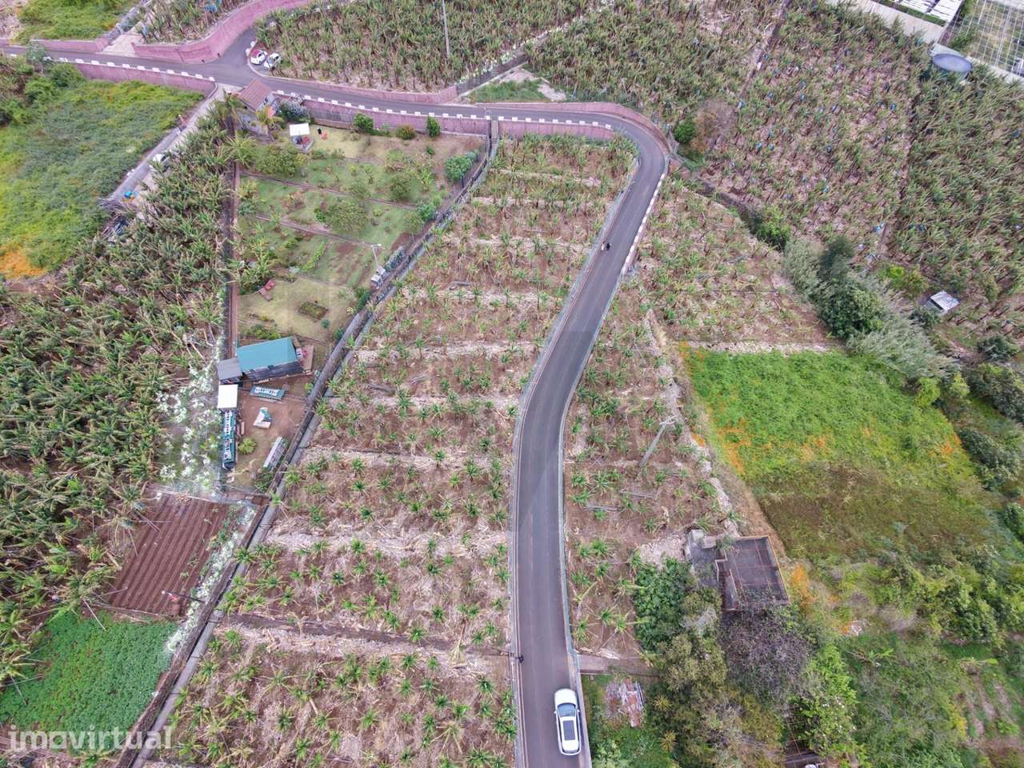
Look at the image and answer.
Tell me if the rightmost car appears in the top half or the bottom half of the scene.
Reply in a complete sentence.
It is in the bottom half that the rightmost car appears.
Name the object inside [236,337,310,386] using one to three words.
shed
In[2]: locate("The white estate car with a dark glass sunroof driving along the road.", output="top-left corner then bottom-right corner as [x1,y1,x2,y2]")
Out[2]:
[552,690,584,757]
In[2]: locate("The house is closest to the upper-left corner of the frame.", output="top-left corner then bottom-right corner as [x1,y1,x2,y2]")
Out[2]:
[241,79,279,128]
